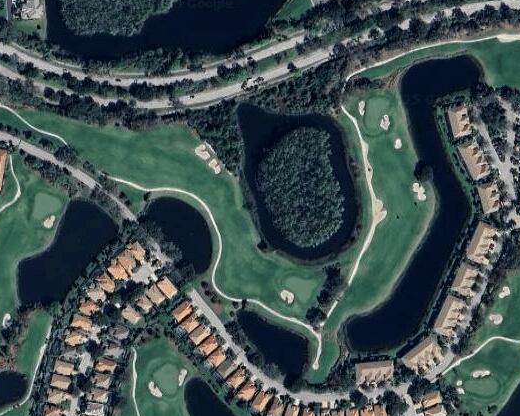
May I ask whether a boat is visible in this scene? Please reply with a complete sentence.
No, no boat is visible in the scene.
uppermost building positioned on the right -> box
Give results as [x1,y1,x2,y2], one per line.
[449,107,474,139]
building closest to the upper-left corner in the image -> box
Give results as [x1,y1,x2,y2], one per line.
[22,1,45,19]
